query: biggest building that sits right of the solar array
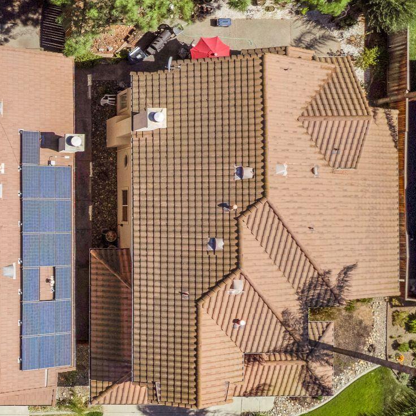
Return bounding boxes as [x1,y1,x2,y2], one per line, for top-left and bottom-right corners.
[79,45,401,409]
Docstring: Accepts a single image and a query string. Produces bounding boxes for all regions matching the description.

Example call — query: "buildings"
[79,45,401,409]
[0,45,84,407]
